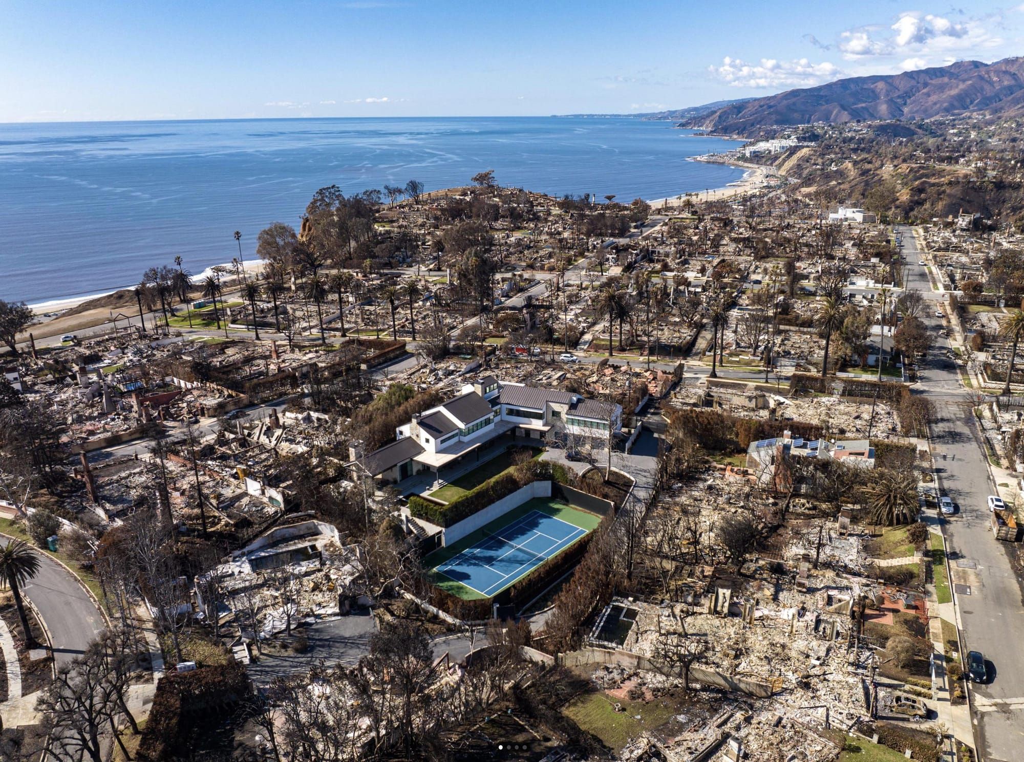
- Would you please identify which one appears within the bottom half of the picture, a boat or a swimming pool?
swimming pool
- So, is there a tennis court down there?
Yes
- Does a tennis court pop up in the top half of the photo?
No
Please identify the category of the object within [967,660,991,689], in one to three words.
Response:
car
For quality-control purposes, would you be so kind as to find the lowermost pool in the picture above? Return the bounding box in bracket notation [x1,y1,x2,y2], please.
[591,603,641,643]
